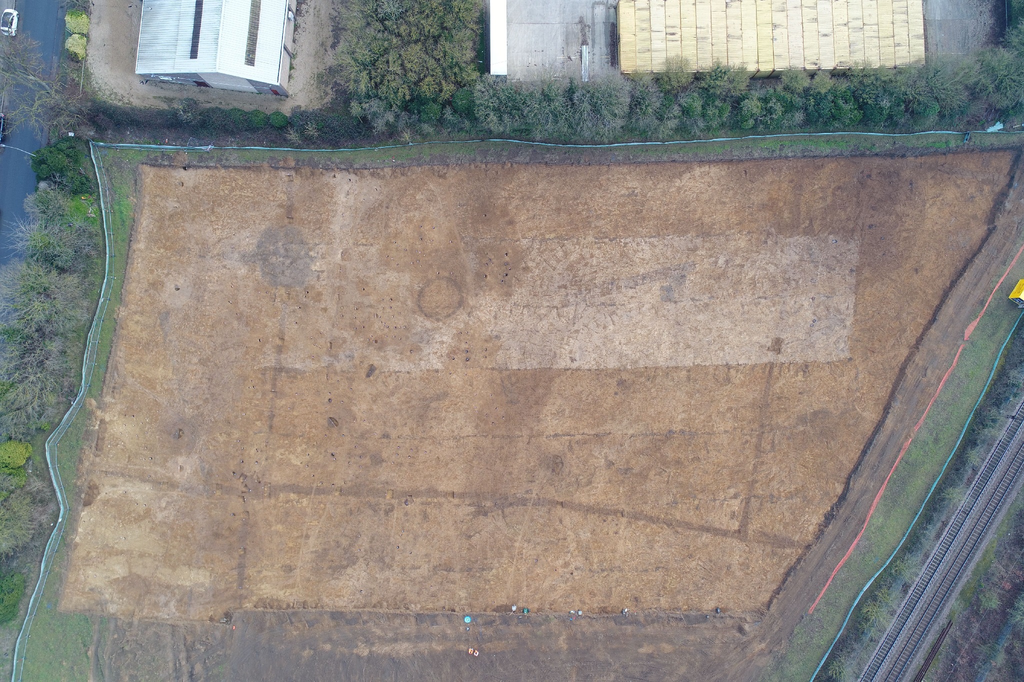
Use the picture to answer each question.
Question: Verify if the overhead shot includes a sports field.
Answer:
No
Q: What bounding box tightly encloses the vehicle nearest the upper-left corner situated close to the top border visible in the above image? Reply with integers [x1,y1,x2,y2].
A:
[3,9,20,36]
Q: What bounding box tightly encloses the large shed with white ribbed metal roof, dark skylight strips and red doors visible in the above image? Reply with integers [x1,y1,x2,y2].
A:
[133,0,299,97]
